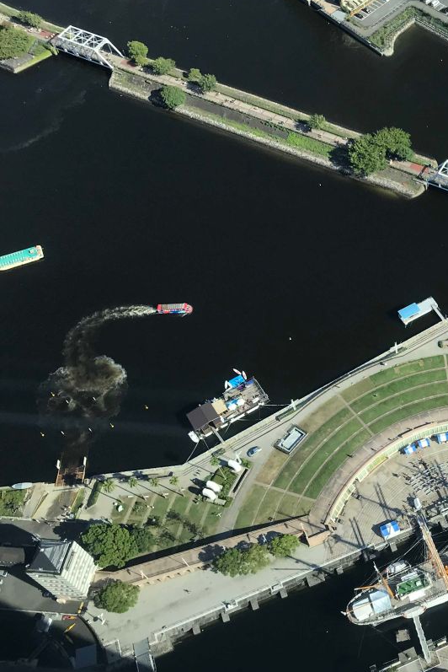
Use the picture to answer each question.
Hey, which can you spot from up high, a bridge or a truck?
bridge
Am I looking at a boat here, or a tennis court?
boat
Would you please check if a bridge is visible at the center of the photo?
No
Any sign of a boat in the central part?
Yes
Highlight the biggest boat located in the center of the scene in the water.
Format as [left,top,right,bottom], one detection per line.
[186,374,269,438]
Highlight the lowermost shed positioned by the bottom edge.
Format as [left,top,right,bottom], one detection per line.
[76,645,101,671]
